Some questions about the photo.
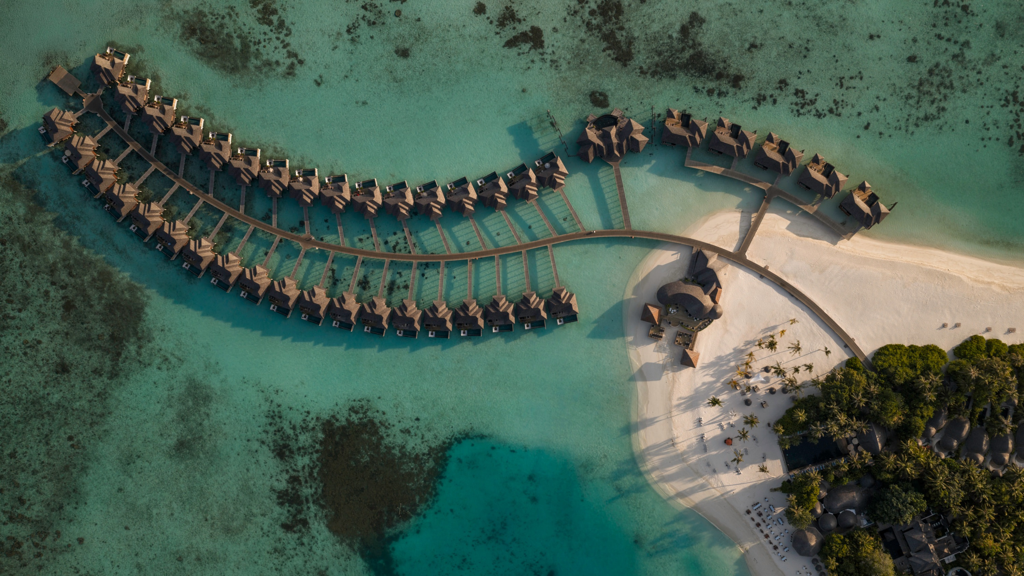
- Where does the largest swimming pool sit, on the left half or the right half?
right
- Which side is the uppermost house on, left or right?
left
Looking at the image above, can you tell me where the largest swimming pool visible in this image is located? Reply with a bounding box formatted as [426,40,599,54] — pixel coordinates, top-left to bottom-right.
[780,423,856,478]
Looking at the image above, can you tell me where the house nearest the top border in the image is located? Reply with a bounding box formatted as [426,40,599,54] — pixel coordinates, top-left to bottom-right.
[90,47,130,89]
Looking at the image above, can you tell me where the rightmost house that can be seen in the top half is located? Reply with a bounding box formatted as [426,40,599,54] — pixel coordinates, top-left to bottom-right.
[837,179,892,229]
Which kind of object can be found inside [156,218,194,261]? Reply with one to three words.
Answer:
house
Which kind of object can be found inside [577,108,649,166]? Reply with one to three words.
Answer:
building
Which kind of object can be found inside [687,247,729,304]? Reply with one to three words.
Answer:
building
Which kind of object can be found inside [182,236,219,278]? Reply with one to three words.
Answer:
house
